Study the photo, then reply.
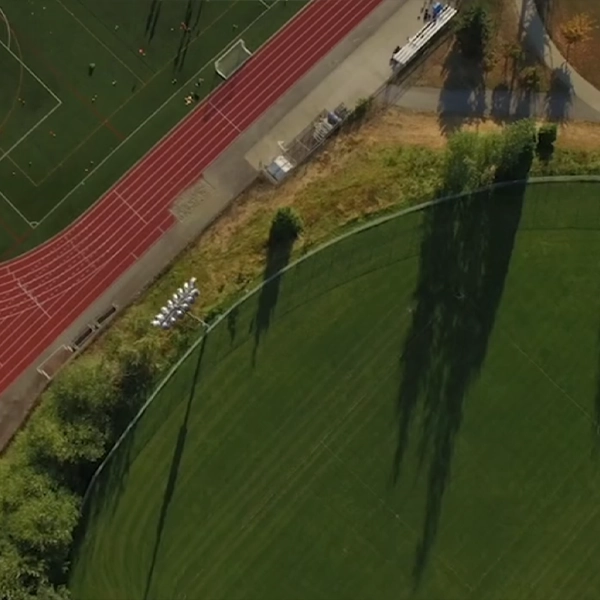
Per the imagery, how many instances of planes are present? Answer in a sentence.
The photo contains no planes.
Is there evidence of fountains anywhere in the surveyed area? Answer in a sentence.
No, there is no fountain in the image.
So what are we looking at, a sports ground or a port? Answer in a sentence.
What you see here is a sports ground.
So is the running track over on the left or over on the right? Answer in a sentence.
The running track is on the left side of the image.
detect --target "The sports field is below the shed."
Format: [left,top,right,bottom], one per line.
[65,181,600,600]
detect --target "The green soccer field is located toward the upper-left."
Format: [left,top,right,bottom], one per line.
[0,0,311,266]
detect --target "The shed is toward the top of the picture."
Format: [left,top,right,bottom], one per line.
[267,155,295,183]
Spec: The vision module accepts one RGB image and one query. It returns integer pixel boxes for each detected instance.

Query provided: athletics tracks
[0,0,387,393]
